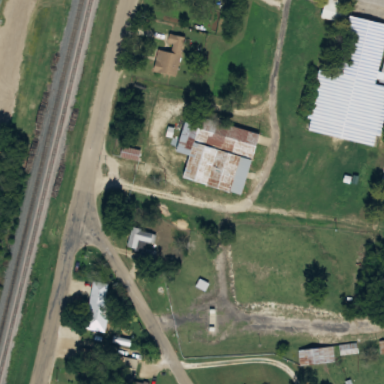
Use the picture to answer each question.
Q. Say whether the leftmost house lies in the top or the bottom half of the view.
bottom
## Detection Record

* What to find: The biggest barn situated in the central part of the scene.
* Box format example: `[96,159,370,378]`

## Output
[176,116,260,196]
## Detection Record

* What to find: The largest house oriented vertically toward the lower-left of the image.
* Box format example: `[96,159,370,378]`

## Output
[86,282,108,331]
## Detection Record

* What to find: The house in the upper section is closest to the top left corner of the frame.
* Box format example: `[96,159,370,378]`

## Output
[153,34,186,76]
